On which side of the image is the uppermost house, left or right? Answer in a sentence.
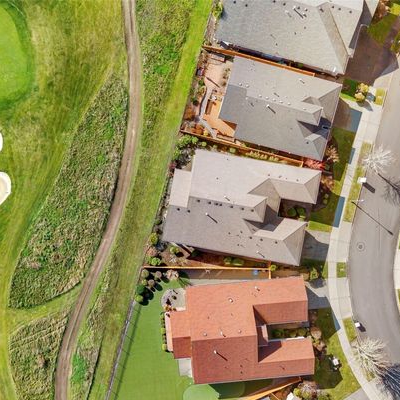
It is on the right.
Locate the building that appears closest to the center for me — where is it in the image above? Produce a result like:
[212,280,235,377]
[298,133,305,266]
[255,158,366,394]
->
[162,149,321,266]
